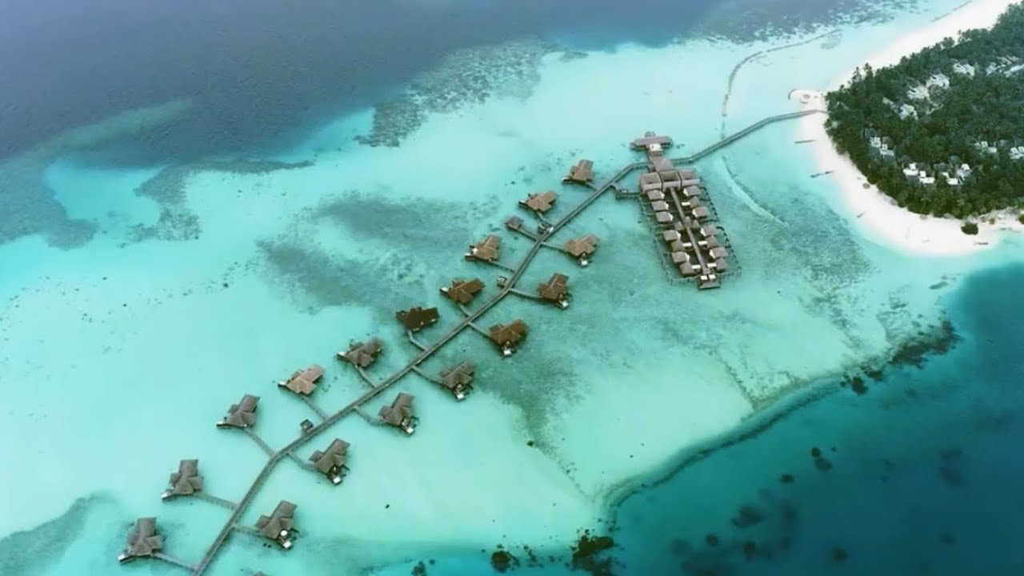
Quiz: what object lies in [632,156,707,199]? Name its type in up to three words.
building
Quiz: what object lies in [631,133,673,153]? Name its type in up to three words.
building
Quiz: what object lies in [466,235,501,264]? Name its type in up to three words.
house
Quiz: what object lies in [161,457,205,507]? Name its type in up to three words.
house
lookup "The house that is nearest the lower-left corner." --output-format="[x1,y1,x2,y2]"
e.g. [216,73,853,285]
[120,514,166,570]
